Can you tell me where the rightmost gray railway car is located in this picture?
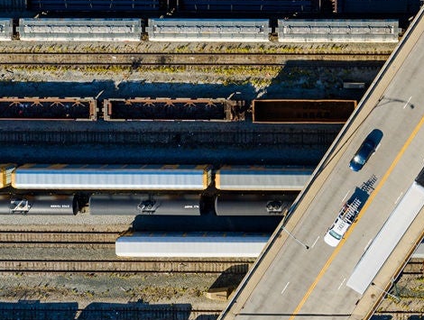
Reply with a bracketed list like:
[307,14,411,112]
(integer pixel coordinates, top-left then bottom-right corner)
[209,191,299,218]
